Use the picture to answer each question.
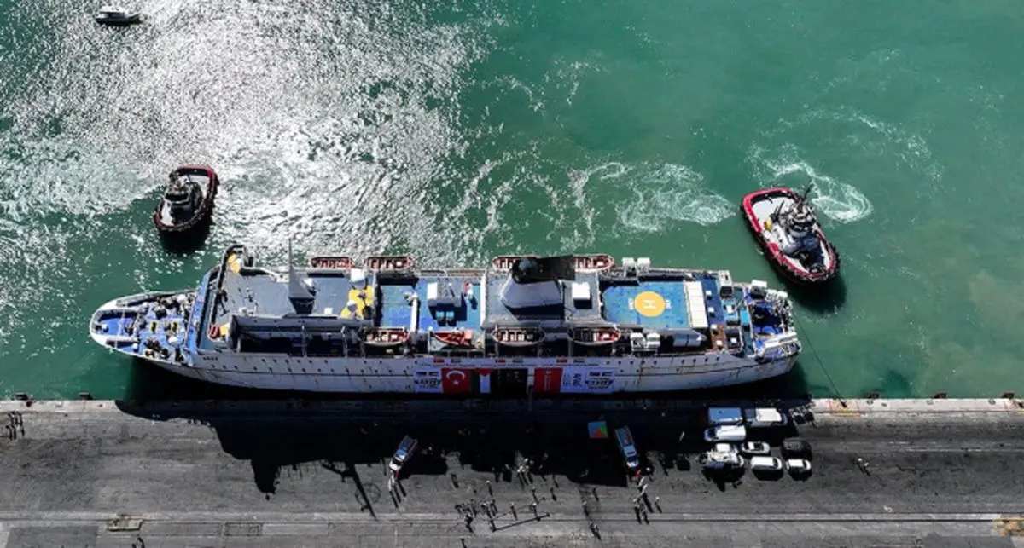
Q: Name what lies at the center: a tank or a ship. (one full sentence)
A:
There is a ship at the center.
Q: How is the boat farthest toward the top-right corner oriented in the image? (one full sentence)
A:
Seen from above, the boat farthest toward the top-right corner lies at an angle.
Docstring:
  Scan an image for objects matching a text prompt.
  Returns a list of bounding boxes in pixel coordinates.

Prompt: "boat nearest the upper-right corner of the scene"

[740,184,851,285]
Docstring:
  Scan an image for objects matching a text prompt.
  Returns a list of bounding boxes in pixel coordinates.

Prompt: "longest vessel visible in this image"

[83,233,799,395]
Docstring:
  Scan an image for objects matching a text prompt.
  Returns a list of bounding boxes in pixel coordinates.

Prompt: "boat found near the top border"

[94,3,143,22]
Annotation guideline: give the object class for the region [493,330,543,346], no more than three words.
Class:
boat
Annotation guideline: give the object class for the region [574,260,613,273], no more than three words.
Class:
boat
